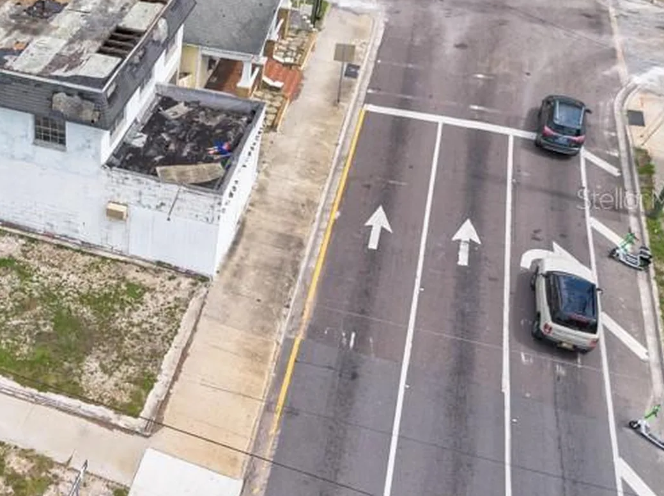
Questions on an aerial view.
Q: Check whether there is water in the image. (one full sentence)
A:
No, the picture contains no water.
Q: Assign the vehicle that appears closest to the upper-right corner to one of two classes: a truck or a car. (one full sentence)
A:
From above, the vehicle that appears closest to the upper-right corner can be identified as a car.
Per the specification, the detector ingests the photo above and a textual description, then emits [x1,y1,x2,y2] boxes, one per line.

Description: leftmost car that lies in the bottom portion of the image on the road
[535,255,611,355]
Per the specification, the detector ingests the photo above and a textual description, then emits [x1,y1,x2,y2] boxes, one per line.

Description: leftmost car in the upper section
[543,89,599,151]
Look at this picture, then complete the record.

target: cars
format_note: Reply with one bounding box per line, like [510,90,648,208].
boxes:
[543,89,599,151]
[535,255,611,355]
